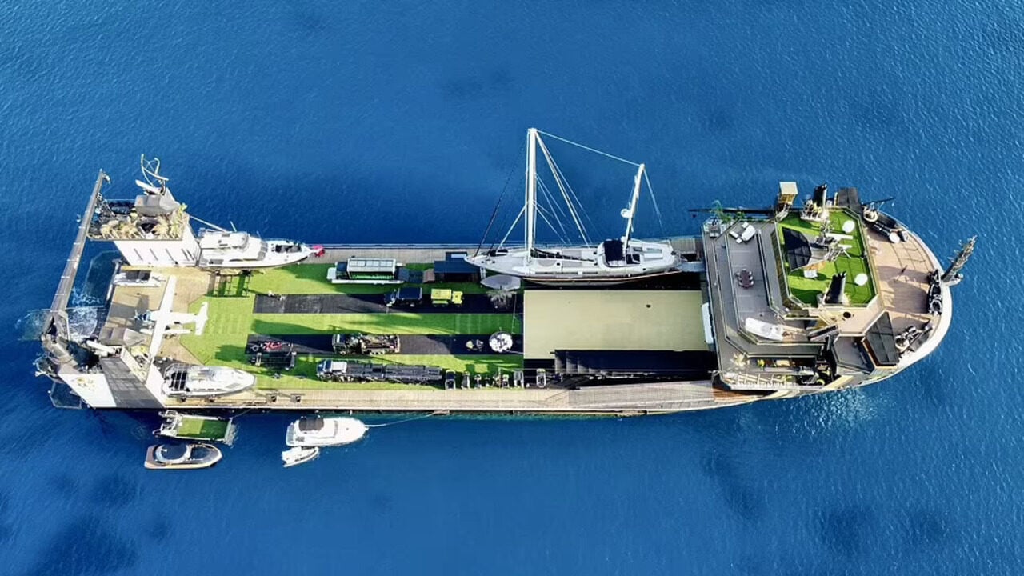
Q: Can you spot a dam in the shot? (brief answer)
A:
No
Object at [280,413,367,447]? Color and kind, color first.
white boat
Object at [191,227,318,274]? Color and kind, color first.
white boat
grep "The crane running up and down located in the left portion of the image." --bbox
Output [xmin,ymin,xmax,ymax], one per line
[30,169,113,381]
